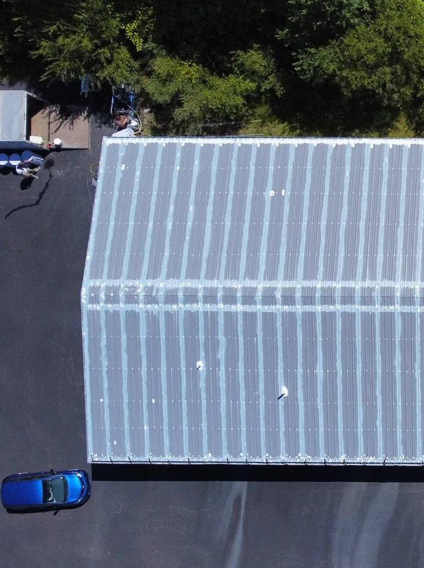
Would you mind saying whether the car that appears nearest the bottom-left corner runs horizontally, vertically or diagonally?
horizontally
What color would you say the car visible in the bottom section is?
blue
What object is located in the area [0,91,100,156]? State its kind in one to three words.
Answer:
trailer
